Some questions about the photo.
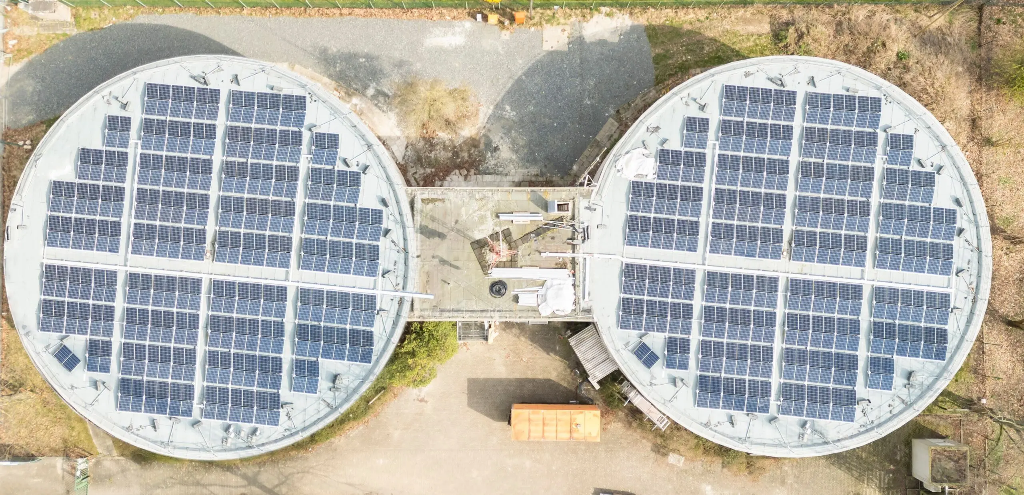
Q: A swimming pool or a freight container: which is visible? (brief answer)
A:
freight container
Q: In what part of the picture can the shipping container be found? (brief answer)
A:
bottom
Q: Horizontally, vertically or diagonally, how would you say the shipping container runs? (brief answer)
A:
horizontally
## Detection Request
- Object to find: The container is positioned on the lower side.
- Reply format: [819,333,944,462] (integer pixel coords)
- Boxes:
[510,397,601,443]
